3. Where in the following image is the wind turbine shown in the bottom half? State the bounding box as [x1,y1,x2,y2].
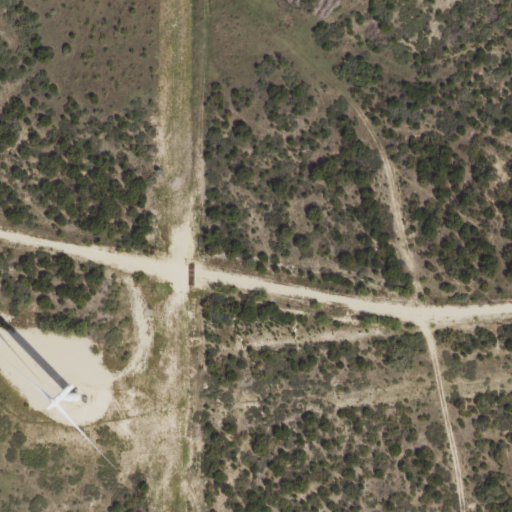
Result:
[0,354,112,468]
